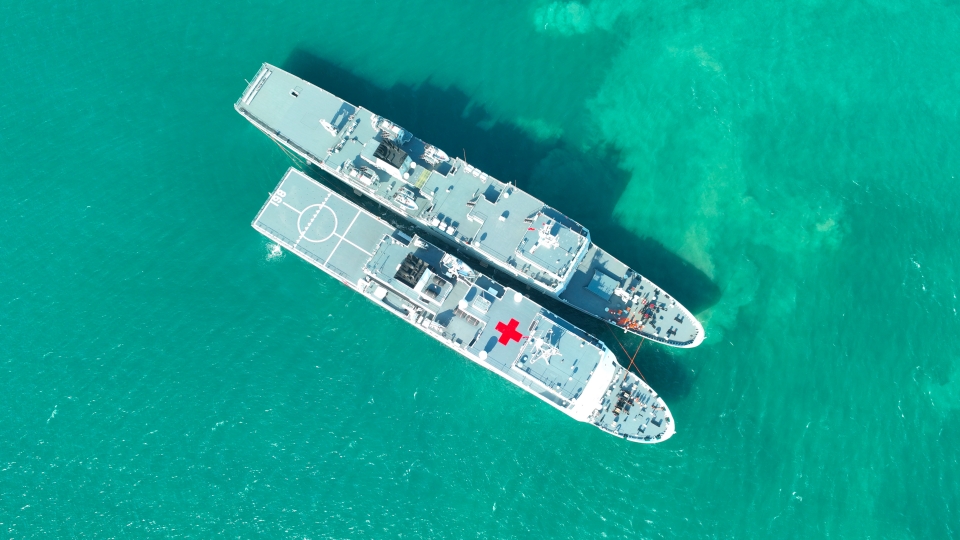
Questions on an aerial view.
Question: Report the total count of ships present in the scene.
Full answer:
The picture shows 2 ships.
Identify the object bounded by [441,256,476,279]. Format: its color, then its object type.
white boat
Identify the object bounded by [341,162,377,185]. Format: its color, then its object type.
white boat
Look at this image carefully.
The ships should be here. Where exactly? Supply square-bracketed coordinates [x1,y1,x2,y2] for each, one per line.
[232,64,708,349]
[248,167,682,442]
